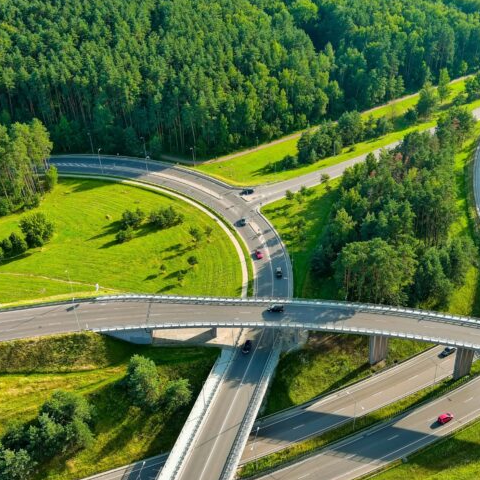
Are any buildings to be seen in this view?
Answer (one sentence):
No, the frame has no building in it.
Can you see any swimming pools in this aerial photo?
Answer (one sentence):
No, the scene contains no swimming pool.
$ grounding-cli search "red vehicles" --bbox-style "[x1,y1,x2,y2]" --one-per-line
[254,249,262,259]
[435,413,453,425]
